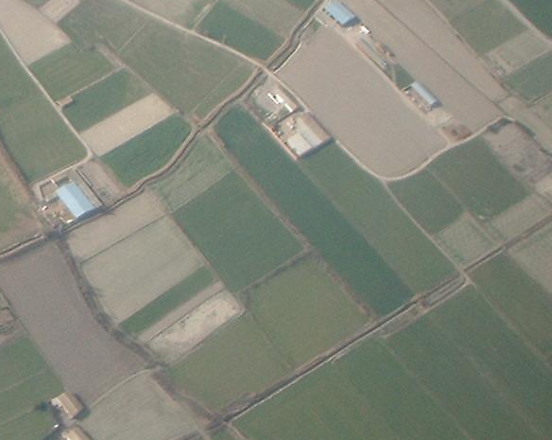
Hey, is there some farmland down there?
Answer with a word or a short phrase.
Yes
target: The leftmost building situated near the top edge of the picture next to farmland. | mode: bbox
[323,0,355,27]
